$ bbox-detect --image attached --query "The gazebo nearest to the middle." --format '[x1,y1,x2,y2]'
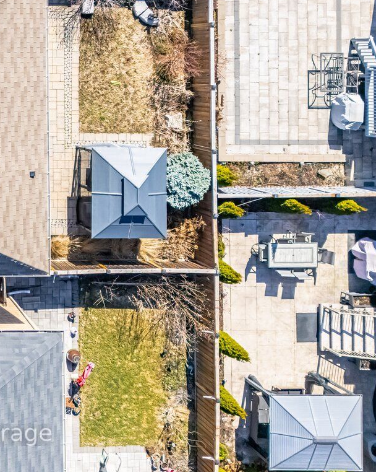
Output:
[74,142,169,238]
